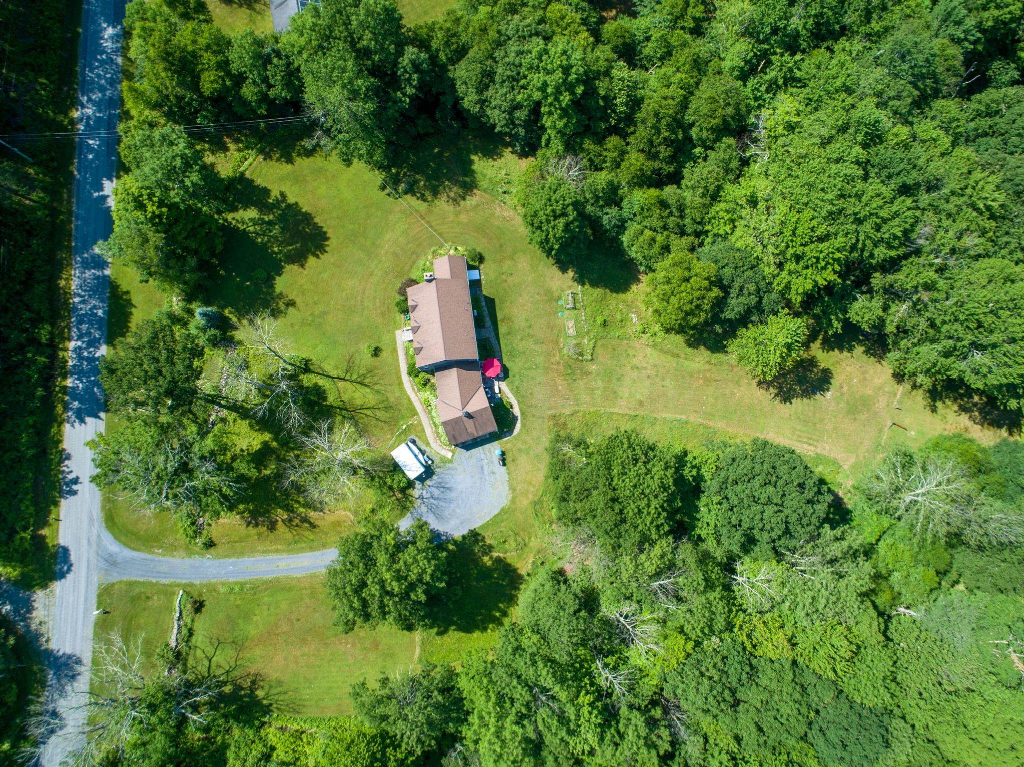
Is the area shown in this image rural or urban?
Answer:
rural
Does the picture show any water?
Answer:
No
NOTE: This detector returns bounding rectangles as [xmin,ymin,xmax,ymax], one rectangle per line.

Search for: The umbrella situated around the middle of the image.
[481,358,500,377]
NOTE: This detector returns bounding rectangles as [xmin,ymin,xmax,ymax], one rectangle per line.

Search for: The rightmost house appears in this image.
[407,255,498,446]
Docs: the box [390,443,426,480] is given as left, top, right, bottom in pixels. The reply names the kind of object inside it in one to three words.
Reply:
trailer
